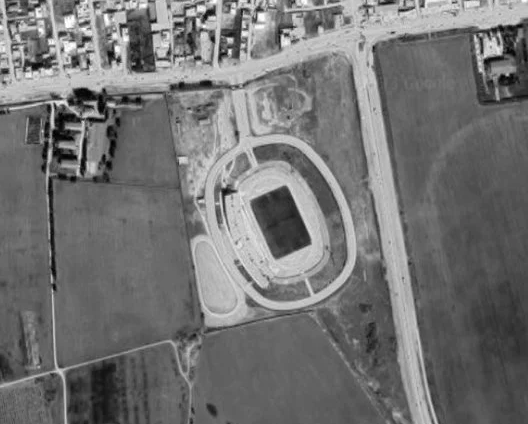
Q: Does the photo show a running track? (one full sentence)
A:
Yes, this view includes a running track.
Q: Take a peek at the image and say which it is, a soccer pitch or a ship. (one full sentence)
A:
I can see a soccer pitch in this picture.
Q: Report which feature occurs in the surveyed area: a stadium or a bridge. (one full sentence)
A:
It is a stadium that can be seen here.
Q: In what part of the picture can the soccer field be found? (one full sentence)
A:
Look in the center portion of the view to spot the soccer field.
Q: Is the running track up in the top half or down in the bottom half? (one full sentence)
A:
The running track is in the bottom half of the image.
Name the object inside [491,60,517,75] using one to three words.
building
